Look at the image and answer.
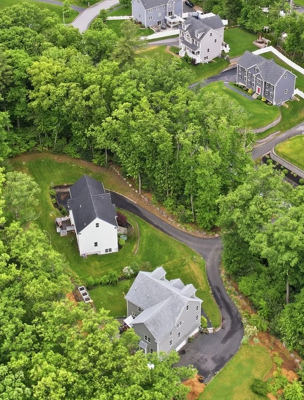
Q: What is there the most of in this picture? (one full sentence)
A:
Most of the picture is covered by trees.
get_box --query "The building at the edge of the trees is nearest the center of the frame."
[64,174,124,259]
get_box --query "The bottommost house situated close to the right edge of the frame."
[237,46,302,106]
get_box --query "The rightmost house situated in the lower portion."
[123,266,206,368]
